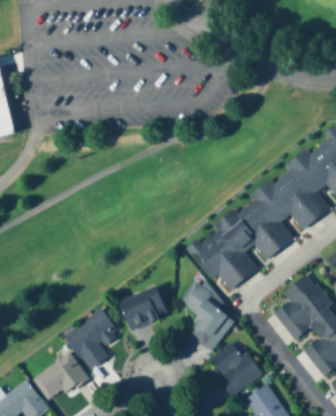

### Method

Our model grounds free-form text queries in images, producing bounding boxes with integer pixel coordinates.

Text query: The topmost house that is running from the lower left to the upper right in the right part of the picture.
[186,124,336,292]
